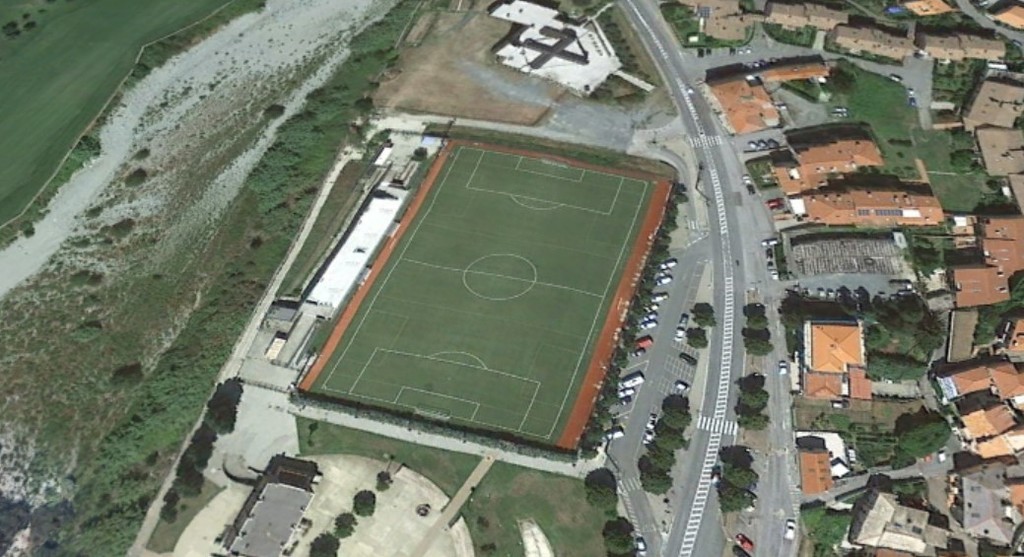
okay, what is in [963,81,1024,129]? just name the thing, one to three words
building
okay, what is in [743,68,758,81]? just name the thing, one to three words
vehicle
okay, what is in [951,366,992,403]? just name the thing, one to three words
house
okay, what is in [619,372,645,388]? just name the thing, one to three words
vehicle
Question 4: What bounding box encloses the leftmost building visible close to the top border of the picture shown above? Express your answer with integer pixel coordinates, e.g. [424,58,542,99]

[486,0,620,99]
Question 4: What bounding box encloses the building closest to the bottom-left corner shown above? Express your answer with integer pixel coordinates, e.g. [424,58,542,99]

[228,459,316,557]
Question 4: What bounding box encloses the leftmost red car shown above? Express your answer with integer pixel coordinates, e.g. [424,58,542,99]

[636,335,654,347]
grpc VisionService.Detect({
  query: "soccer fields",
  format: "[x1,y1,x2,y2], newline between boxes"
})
[298,138,674,452]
